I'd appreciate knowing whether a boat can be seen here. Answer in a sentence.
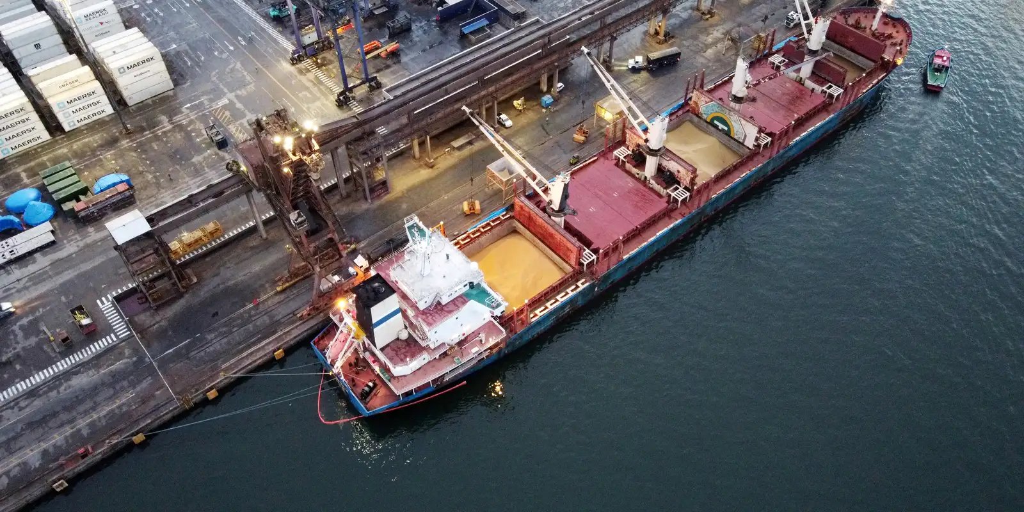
Yes, this view includes a boat.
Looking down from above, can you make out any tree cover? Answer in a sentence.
No, the picture contains no tree cover.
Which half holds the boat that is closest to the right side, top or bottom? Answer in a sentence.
The boat that is closest to the right side sits in the top half of the picture.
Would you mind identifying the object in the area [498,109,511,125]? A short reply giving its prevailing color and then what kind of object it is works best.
white vehicle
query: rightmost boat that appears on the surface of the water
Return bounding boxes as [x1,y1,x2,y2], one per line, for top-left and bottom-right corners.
[926,48,952,93]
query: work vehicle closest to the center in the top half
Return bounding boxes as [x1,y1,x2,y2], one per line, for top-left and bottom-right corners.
[568,155,581,167]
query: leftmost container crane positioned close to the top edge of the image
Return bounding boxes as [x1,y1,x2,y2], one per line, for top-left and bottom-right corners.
[285,0,380,104]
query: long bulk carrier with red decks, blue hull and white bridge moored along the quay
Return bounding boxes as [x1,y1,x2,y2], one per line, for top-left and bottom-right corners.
[311,0,912,419]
